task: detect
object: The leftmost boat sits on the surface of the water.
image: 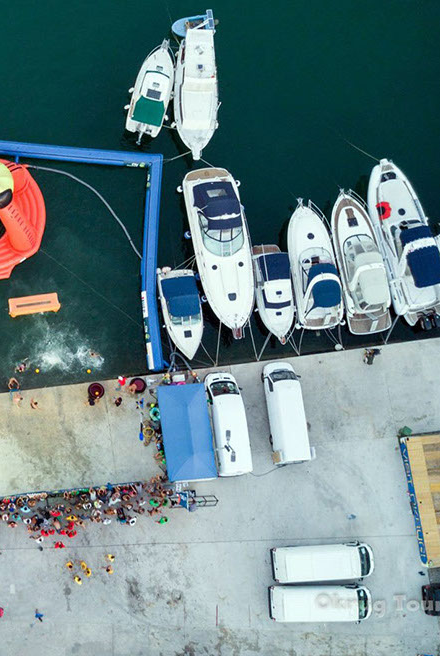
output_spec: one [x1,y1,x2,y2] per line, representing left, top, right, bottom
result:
[124,38,179,145]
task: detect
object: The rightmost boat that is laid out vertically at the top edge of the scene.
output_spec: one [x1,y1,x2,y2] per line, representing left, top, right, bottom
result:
[162,10,220,167]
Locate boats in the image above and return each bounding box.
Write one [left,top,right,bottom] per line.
[162,14,218,42]
[330,186,391,340]
[124,38,179,145]
[341,147,440,341]
[279,192,346,351]
[256,246,301,358]
[170,170,260,363]
[158,270,213,366]
[162,10,220,167]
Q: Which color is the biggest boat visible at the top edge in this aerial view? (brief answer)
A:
white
